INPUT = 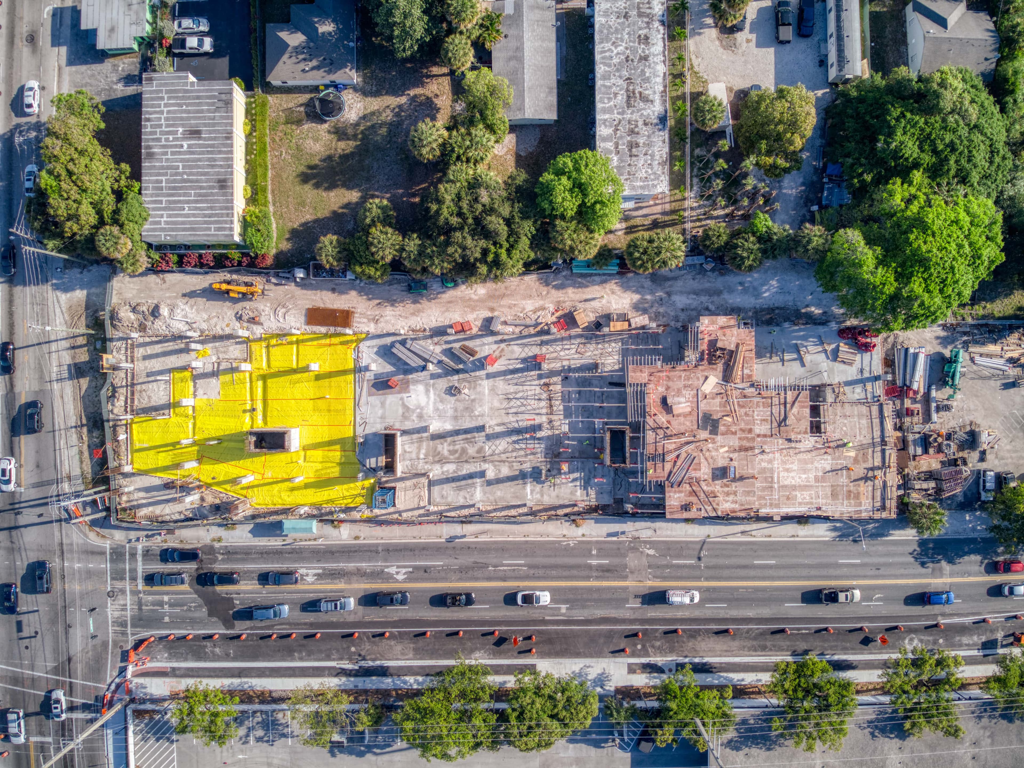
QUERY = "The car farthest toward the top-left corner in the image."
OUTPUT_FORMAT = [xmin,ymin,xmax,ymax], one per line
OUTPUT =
[22,81,41,115]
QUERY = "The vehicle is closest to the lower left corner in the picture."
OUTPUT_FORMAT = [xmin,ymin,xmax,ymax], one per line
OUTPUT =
[6,708,27,744]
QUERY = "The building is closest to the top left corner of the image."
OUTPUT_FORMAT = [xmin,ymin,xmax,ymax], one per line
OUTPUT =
[81,0,159,60]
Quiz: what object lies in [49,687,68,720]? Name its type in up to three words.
car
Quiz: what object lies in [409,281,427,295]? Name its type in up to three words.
work vehicle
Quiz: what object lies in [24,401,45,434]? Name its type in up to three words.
car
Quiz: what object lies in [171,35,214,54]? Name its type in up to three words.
vehicle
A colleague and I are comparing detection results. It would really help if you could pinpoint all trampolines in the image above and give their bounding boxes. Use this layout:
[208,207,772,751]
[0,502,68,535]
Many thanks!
[311,84,346,122]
